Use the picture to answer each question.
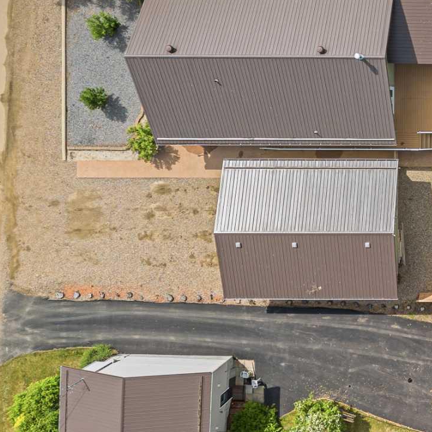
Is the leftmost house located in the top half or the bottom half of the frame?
bottom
